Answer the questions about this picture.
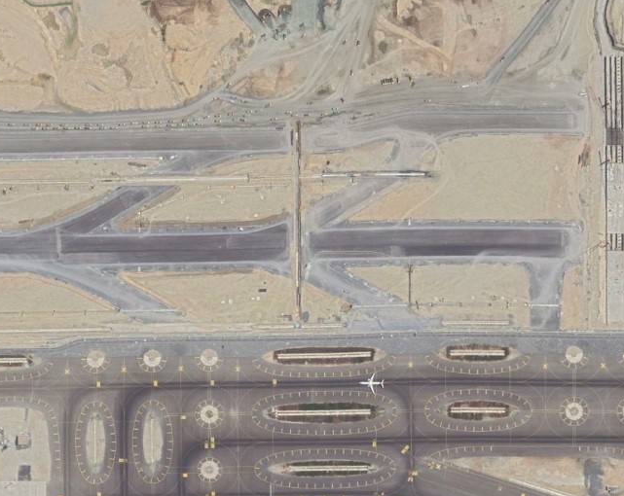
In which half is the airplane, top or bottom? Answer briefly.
bottom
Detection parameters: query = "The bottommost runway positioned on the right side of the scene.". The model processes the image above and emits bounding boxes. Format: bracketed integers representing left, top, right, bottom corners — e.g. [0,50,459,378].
[306,176,582,331]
